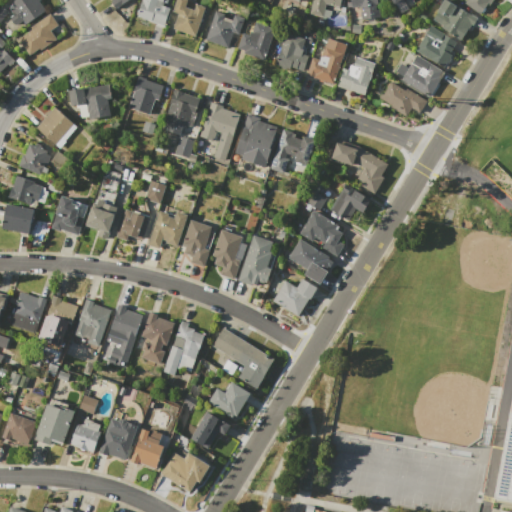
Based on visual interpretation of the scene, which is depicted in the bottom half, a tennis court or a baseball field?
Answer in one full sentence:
You can see a baseball field in the bottom half.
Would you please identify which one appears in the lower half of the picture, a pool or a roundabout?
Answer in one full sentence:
Visible in the lower half of the picture is a pool.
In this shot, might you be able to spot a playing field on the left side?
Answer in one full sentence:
No, there's no playing field to be seen on the left side.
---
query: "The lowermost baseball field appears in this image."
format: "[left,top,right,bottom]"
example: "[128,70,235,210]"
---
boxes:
[414,372,489,447]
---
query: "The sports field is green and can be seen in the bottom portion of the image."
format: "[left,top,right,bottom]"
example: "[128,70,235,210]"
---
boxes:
[338,222,512,448]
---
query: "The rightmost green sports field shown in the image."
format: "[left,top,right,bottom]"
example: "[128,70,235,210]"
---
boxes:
[462,56,512,172]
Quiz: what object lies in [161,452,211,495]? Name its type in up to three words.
house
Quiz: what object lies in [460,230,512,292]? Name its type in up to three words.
baseball field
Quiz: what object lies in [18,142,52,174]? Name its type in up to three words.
house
